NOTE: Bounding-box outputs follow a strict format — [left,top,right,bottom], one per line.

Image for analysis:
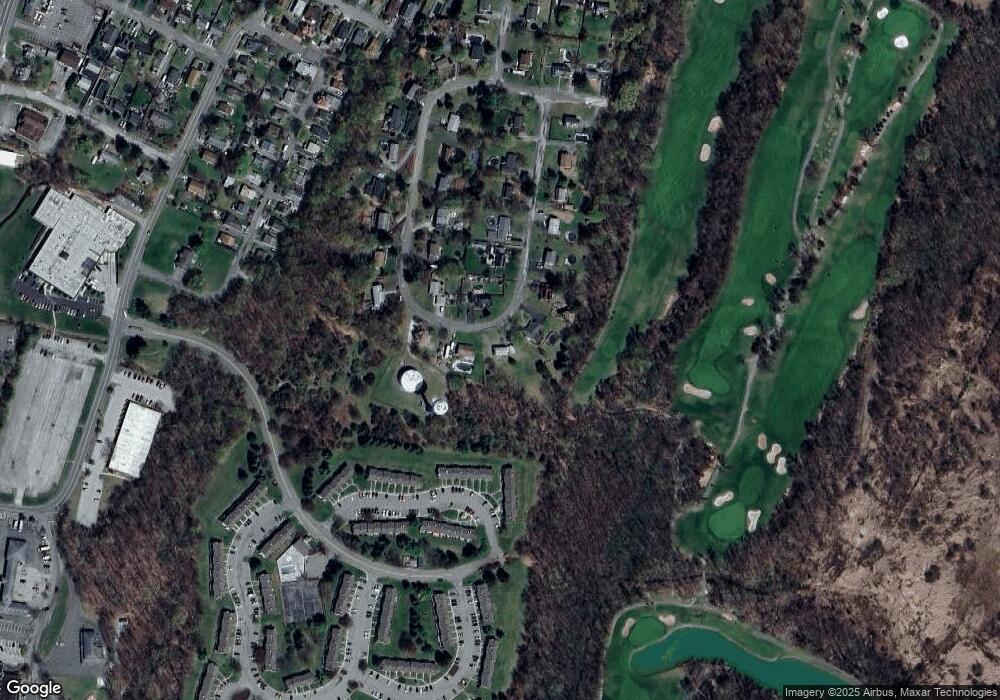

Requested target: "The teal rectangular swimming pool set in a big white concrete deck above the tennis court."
[277,547,330,582]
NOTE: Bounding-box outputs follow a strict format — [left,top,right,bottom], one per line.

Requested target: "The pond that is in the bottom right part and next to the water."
[630,627,864,700]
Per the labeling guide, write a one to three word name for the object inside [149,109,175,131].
house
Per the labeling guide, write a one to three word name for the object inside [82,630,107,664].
building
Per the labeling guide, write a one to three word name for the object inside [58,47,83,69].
house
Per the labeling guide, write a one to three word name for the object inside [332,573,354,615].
building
